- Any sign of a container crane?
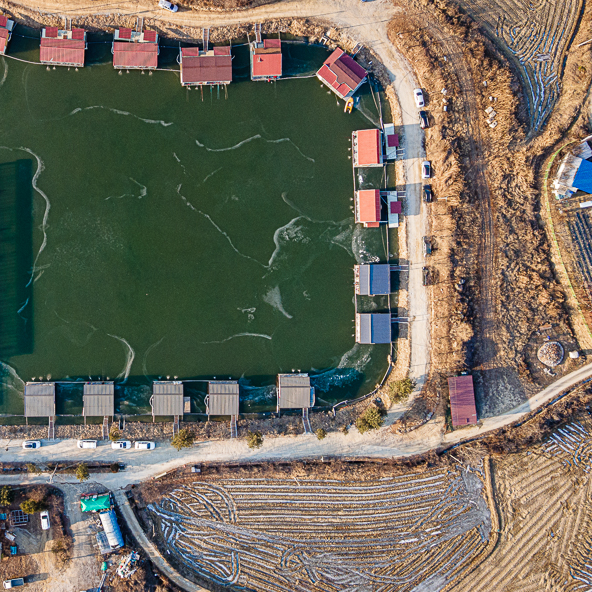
No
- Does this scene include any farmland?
Yes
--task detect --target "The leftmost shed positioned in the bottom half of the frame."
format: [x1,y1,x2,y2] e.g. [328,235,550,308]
[24,380,56,424]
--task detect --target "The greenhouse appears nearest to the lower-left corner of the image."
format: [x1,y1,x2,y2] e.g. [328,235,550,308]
[99,508,124,549]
